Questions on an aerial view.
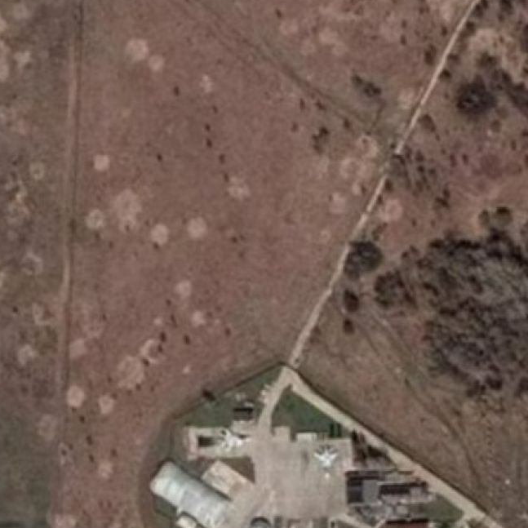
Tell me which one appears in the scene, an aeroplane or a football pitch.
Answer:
aeroplane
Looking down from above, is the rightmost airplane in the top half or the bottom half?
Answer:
bottom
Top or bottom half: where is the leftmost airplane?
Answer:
bottom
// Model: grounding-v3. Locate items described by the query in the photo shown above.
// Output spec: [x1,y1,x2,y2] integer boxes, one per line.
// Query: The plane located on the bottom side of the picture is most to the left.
[215,428,247,449]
